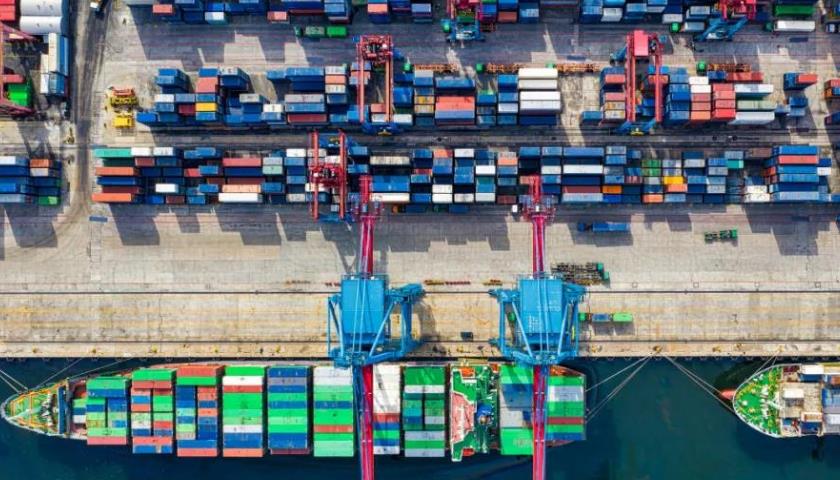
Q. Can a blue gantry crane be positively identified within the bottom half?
Yes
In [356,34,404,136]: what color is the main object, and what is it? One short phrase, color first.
red container crane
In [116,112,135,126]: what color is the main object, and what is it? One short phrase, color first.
yellow vehicle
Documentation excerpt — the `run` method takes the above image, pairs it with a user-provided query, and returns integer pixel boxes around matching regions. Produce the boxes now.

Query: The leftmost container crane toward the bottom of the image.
[327,176,427,480]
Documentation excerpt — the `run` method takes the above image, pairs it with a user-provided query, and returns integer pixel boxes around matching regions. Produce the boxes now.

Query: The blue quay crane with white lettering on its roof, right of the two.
[484,176,587,480]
